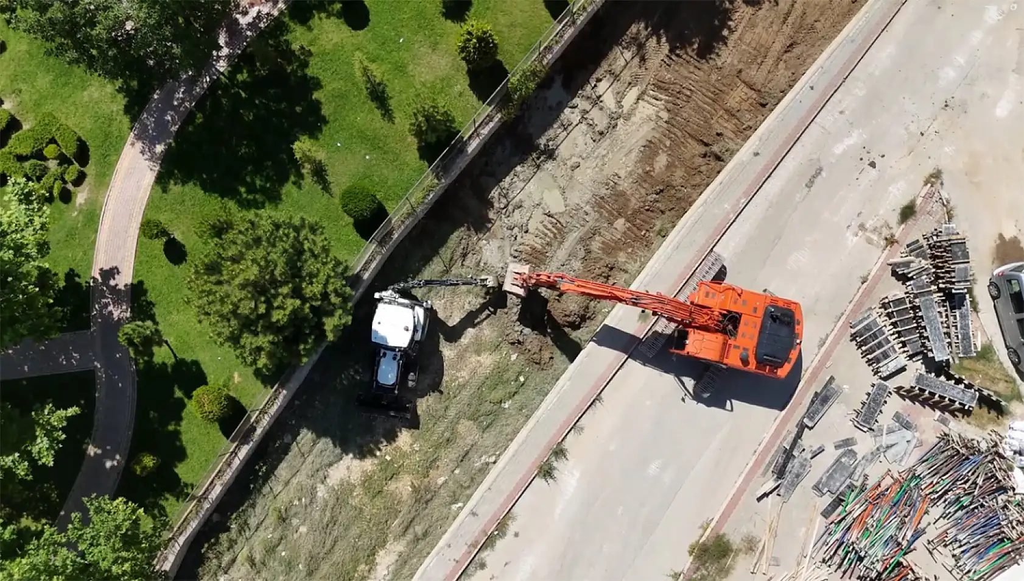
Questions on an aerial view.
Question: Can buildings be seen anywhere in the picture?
No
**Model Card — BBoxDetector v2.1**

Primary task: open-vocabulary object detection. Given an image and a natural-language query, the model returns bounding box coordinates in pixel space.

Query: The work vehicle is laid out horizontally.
[507,253,802,399]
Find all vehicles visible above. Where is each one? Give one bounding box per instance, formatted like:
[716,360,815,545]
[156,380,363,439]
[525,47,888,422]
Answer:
[985,259,1024,370]
[360,275,499,412]
[507,253,802,399]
